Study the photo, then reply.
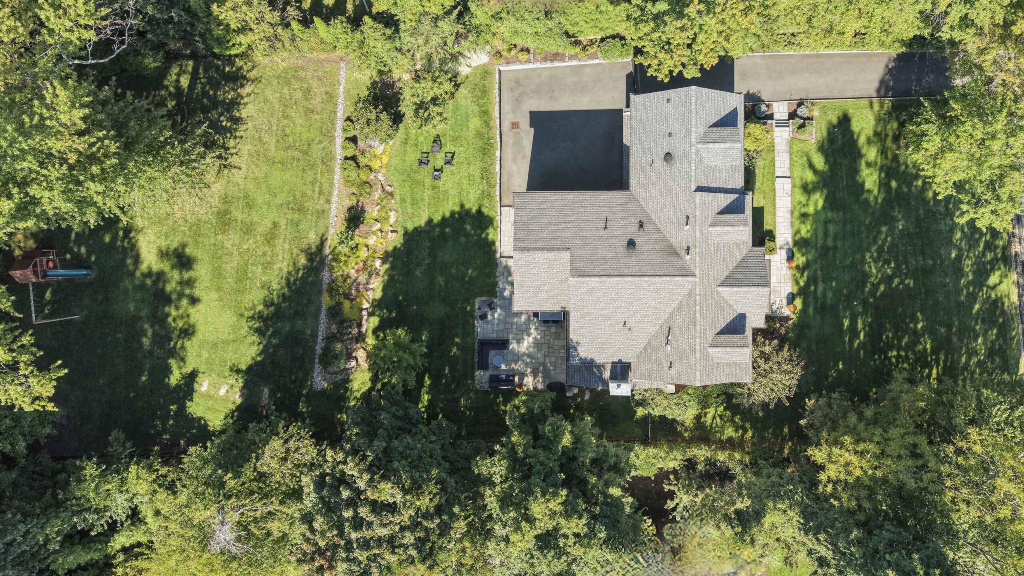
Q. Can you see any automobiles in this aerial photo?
No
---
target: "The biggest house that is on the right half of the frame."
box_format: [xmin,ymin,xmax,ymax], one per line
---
[512,83,772,396]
